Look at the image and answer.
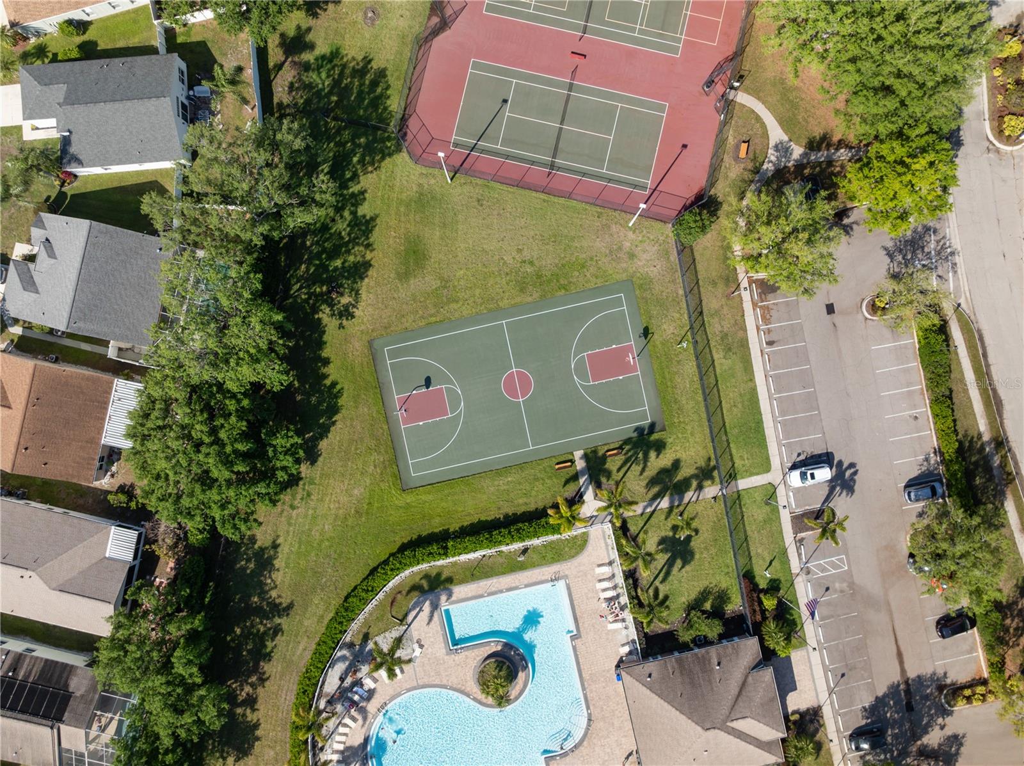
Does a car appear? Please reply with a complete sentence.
Yes, you can see a car in this photo.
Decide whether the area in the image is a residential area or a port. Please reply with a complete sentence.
The picture captures a residential area.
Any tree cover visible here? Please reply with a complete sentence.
Yes, some tree cover is visible.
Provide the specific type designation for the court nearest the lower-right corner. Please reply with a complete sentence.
Looking closely, the court nearest the lower-right corner is a basketball court.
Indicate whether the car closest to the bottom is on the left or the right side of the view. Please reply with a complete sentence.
You can find the car closest to the bottom on the right side of the picture.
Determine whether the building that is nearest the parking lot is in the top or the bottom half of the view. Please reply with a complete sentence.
The bottom half of the photo is where the building that is nearest the parking lot is.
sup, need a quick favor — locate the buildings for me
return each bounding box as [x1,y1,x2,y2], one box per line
[620,636,786,766]
[0,497,152,636]
[0,357,142,484]
[0,639,129,766]
[20,54,191,173]
[3,0,156,36]
[3,213,235,345]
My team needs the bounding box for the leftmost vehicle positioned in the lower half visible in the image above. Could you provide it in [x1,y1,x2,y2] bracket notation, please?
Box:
[785,464,832,488]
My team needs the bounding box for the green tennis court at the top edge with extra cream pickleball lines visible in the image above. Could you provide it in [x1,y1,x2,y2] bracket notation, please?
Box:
[483,0,727,56]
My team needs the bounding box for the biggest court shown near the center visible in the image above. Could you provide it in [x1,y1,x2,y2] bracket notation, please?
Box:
[370,280,666,490]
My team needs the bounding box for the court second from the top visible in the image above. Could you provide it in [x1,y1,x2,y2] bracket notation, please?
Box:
[451,60,668,192]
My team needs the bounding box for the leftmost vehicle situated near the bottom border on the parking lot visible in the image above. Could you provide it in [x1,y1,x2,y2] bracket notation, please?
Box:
[845,727,888,752]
